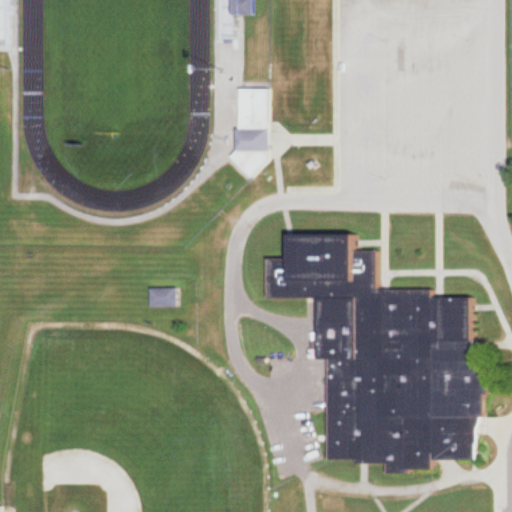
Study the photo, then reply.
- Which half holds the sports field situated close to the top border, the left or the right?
left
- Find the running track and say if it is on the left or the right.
left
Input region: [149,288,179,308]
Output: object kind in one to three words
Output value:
shed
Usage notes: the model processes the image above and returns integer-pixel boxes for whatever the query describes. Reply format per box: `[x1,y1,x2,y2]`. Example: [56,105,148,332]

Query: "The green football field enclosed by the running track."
[43,0,190,191]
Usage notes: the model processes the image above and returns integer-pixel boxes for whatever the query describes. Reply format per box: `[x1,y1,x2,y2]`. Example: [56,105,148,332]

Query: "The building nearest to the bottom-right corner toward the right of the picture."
[264,234,486,473]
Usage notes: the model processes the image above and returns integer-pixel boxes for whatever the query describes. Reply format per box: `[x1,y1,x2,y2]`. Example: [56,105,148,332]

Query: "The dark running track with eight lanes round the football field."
[23,0,210,210]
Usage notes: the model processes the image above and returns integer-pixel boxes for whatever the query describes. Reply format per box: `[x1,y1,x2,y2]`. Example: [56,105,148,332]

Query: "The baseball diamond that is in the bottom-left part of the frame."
[2,322,270,512]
